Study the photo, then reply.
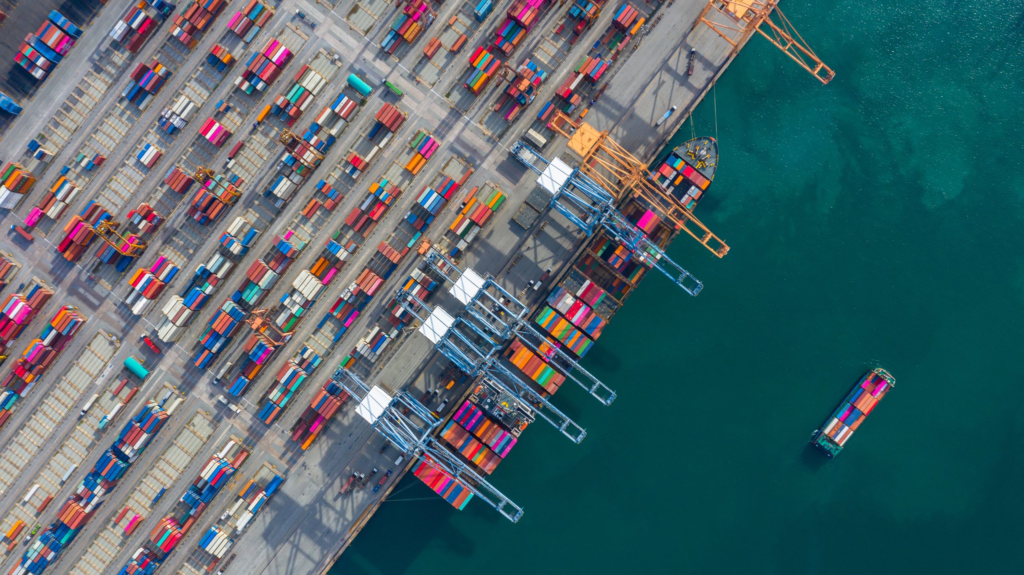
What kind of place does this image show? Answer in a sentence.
This image shows a port.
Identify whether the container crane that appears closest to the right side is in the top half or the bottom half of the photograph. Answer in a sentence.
The top half of the photo is where the container crane that appears closest to the right side is.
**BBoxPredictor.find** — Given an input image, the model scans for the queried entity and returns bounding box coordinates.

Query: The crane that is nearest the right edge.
[689,0,841,84]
